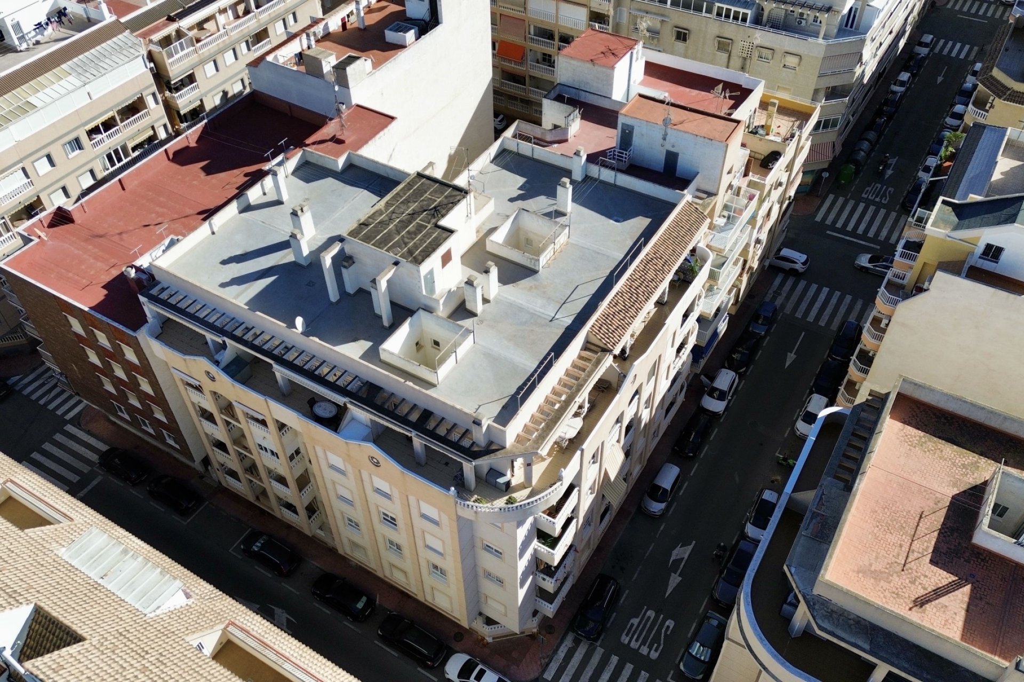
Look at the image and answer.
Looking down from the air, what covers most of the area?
buildings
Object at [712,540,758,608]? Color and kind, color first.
black car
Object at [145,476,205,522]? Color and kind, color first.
black car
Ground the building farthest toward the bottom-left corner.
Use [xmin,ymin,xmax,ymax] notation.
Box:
[0,450,358,682]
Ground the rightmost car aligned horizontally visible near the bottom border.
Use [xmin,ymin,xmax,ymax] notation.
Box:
[446,652,519,682]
